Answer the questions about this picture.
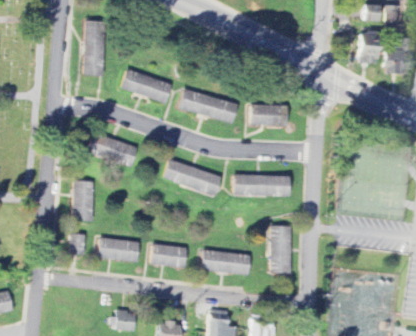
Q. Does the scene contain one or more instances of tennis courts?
Yes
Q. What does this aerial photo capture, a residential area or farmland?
residential area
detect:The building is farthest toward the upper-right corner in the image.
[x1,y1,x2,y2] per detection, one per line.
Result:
[383,4,400,24]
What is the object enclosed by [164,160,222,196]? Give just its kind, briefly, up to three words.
house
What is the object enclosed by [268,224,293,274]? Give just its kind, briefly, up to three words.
house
